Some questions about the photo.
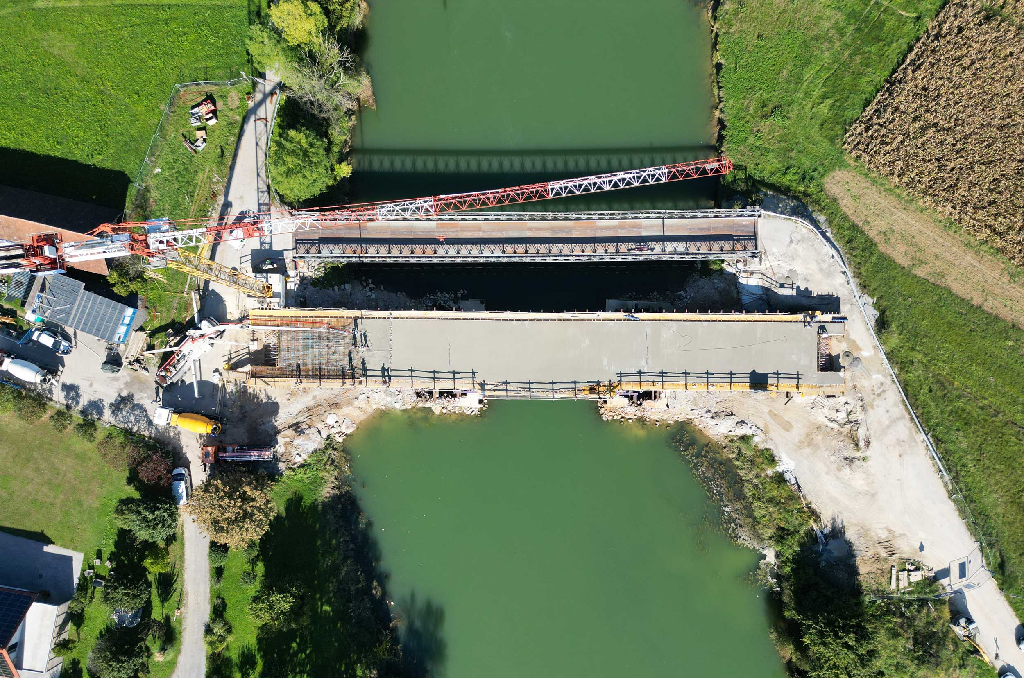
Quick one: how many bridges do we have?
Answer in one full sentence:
Altogether the scene contains 2 bridges.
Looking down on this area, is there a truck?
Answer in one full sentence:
Yes, the picture does show a truck.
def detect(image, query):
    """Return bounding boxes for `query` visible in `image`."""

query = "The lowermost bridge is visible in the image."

[225,299,845,411]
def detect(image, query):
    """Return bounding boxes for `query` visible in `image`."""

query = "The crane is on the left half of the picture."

[0,155,739,309]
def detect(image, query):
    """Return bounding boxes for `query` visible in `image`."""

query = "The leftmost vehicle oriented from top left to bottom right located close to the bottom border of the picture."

[948,608,993,664]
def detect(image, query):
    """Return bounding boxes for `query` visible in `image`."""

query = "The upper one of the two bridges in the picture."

[291,209,766,265]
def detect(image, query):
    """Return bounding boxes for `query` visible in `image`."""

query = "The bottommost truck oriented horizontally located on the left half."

[200,435,277,469]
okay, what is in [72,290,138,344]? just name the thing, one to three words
shed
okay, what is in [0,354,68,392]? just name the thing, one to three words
truck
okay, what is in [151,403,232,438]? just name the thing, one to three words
truck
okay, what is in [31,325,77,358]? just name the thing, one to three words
car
